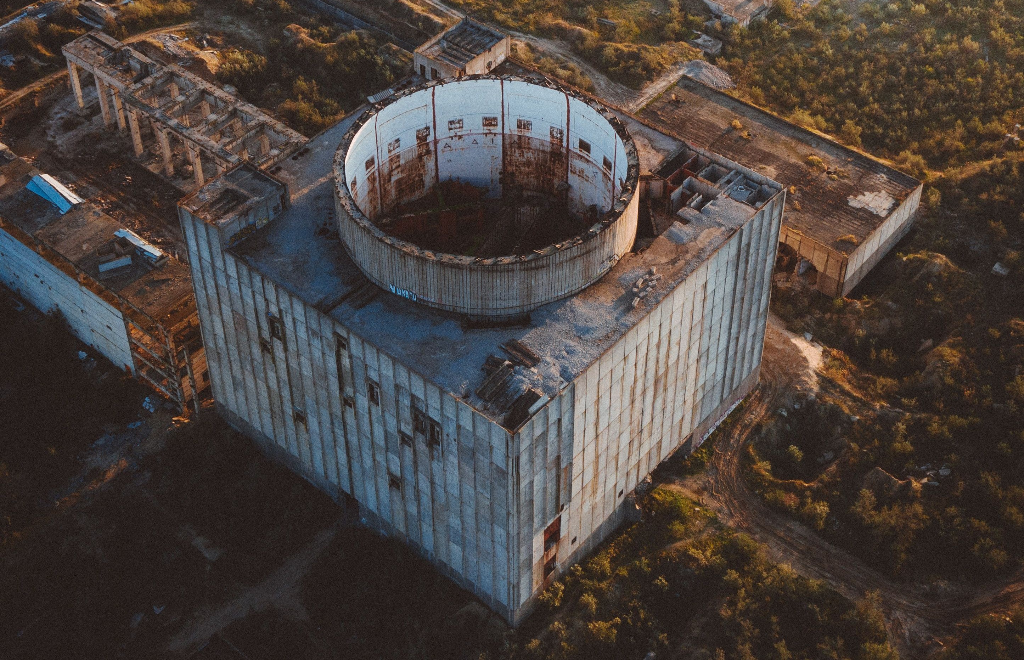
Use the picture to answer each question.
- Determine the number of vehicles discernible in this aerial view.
0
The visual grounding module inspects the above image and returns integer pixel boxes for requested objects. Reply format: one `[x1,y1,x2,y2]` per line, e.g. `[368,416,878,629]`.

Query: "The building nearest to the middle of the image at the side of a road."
[175,14,790,624]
